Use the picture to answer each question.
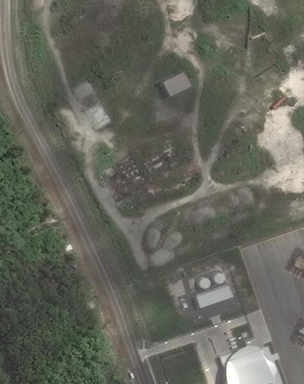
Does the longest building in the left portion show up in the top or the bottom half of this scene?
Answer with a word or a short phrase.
top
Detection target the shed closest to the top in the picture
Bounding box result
[163,71,189,96]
